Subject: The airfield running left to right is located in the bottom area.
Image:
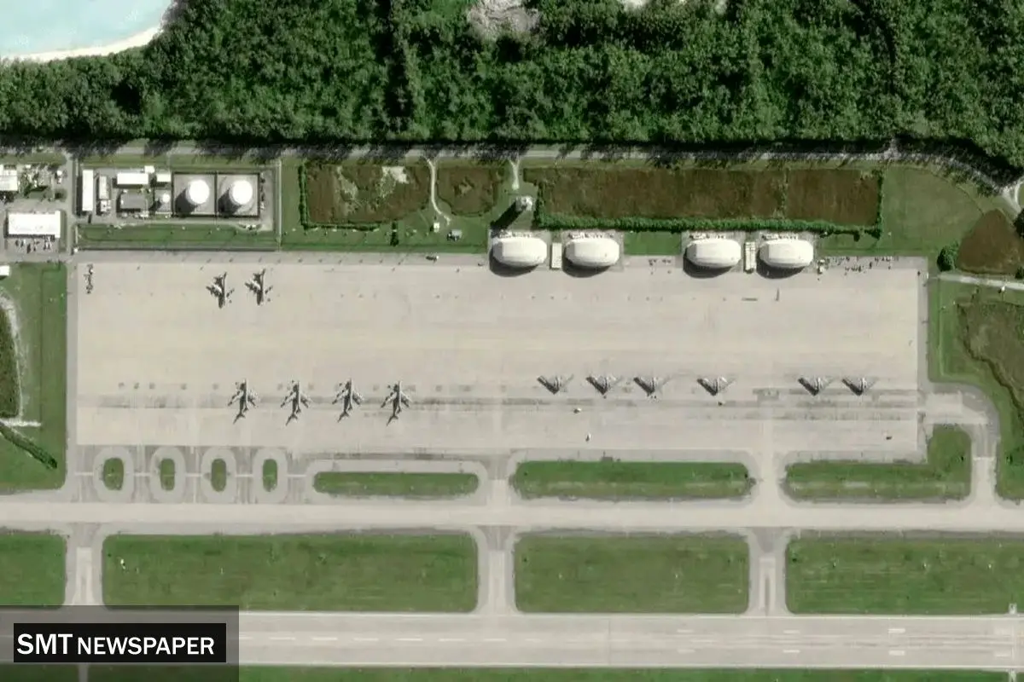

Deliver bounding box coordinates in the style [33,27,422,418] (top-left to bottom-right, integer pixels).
[0,252,1024,682]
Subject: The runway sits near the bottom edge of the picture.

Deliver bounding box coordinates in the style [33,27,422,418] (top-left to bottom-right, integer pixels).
[0,611,1024,670]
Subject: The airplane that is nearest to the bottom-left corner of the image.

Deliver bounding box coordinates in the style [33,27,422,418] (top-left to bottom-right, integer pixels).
[232,379,262,409]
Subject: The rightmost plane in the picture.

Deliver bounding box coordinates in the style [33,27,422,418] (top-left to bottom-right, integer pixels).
[844,376,880,394]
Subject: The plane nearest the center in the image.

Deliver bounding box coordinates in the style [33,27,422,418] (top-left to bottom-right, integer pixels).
[539,374,576,392]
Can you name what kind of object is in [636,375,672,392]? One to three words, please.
airplane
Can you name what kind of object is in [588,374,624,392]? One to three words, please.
airplane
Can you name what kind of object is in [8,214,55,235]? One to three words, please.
building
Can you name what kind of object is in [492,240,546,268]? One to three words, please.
hangar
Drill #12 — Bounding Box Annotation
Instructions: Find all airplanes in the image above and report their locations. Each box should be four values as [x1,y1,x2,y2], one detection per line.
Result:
[588,374,624,392]
[337,379,367,408]
[210,277,238,306]
[800,376,836,394]
[232,379,262,409]
[844,376,880,394]
[249,274,277,303]
[539,374,576,392]
[385,381,415,411]
[699,376,735,393]
[636,375,672,392]
[284,381,314,412]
